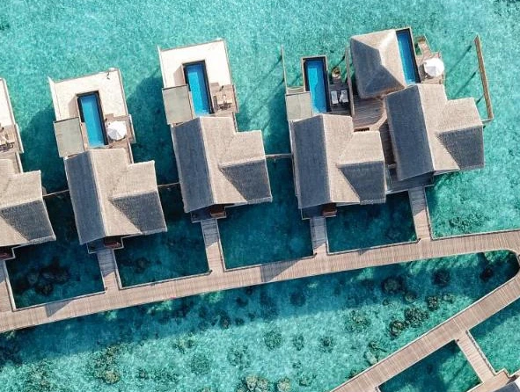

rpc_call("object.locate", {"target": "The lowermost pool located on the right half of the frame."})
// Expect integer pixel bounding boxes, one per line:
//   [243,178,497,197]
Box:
[299,56,330,113]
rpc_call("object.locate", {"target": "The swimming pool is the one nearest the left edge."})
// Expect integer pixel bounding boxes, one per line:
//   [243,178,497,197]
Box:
[75,91,109,149]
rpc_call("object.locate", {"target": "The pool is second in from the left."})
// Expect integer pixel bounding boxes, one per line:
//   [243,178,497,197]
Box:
[182,59,214,117]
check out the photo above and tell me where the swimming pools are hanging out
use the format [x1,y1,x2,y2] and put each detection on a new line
[299,56,330,113]
[400,27,422,85]
[182,59,214,117]
[75,91,109,149]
